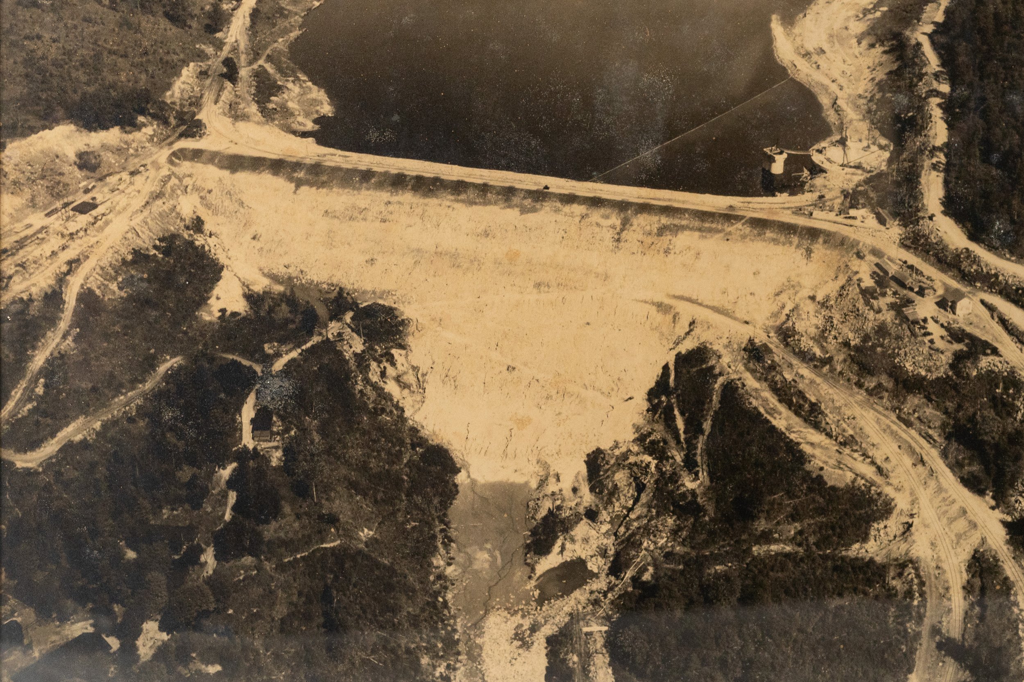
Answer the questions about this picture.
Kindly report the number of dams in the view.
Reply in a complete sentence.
The picture shows 1 dam.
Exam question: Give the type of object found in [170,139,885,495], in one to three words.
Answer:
dam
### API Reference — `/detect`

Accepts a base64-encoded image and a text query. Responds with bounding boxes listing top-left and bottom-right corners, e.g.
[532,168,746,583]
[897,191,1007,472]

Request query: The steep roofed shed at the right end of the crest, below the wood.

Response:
[874,199,902,227]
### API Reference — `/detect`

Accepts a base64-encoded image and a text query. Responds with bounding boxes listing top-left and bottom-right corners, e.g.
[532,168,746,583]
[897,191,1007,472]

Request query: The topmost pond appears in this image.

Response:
[293,0,830,200]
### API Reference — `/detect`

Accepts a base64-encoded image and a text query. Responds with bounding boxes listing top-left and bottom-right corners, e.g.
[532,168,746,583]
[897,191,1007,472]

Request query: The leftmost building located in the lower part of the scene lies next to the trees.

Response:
[250,410,274,443]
